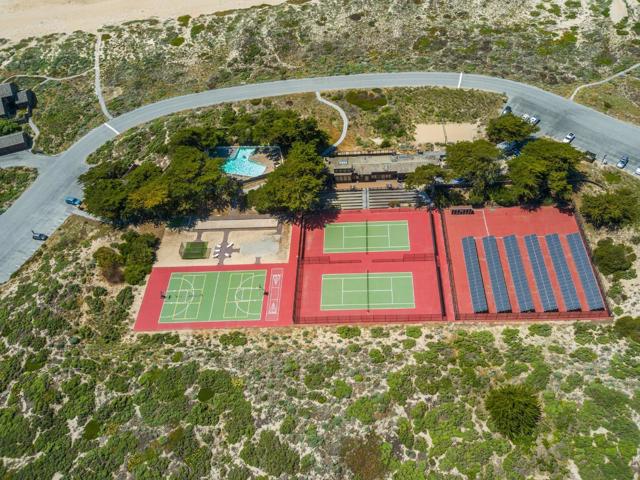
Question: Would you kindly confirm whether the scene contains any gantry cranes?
No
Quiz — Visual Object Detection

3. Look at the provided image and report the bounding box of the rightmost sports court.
[444,204,615,322]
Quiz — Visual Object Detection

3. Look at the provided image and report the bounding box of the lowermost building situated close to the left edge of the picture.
[0,129,32,162]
